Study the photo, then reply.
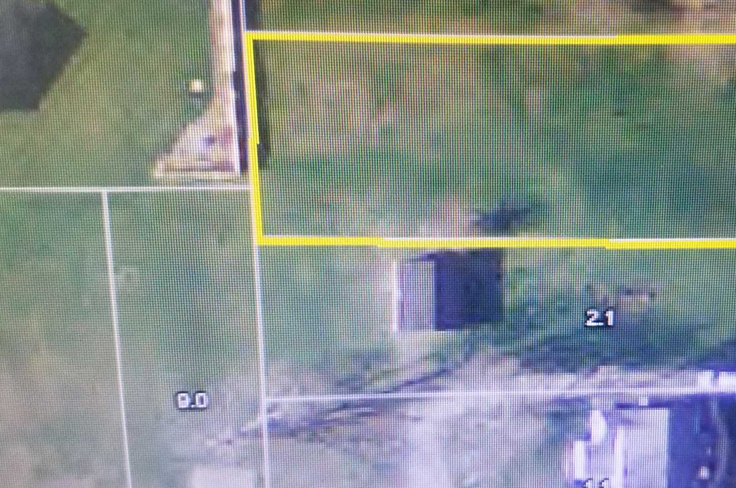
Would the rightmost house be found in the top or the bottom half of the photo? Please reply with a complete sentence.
You can find the rightmost house in the bottom half.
